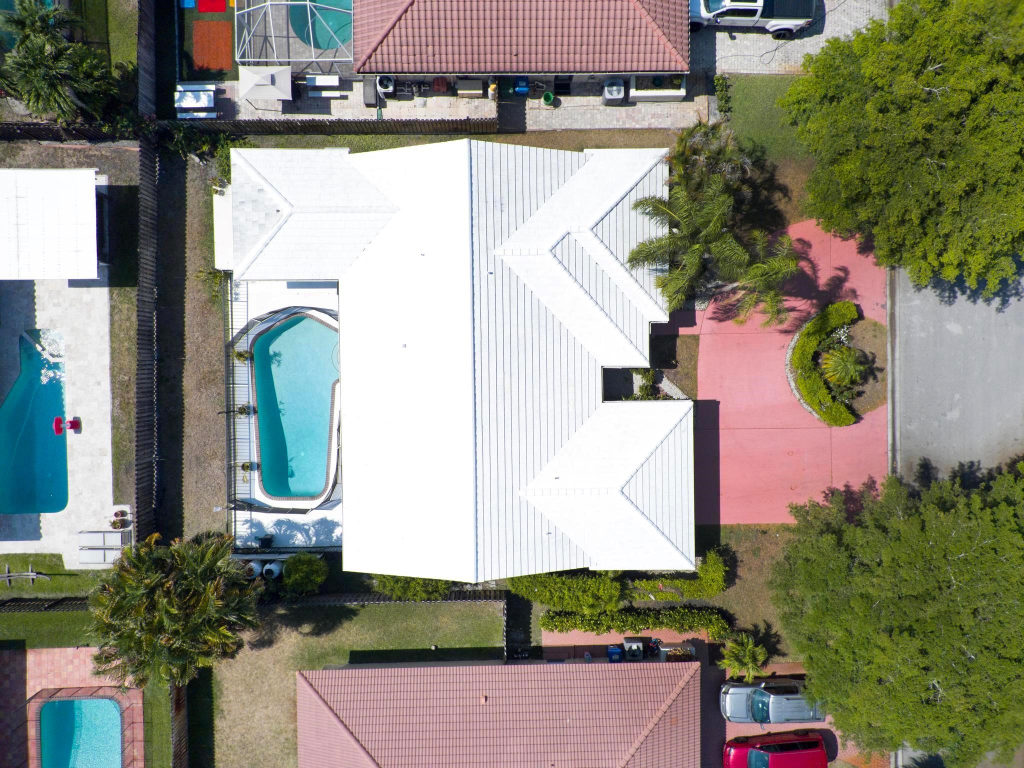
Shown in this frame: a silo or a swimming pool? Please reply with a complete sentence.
The one in the frame is a swimming pool.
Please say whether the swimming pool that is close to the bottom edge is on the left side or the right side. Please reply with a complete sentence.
It is on the left.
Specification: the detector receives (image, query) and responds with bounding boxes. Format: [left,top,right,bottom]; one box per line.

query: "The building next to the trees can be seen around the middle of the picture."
[227,137,698,584]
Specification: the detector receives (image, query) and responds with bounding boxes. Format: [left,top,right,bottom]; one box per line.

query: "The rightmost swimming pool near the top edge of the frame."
[285,0,352,52]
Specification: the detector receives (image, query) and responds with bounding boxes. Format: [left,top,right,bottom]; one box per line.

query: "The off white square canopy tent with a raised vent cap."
[239,66,305,116]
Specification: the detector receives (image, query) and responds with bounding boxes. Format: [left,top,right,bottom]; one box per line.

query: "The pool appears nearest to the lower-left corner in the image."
[34,694,126,768]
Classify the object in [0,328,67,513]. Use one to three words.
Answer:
swimming pool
